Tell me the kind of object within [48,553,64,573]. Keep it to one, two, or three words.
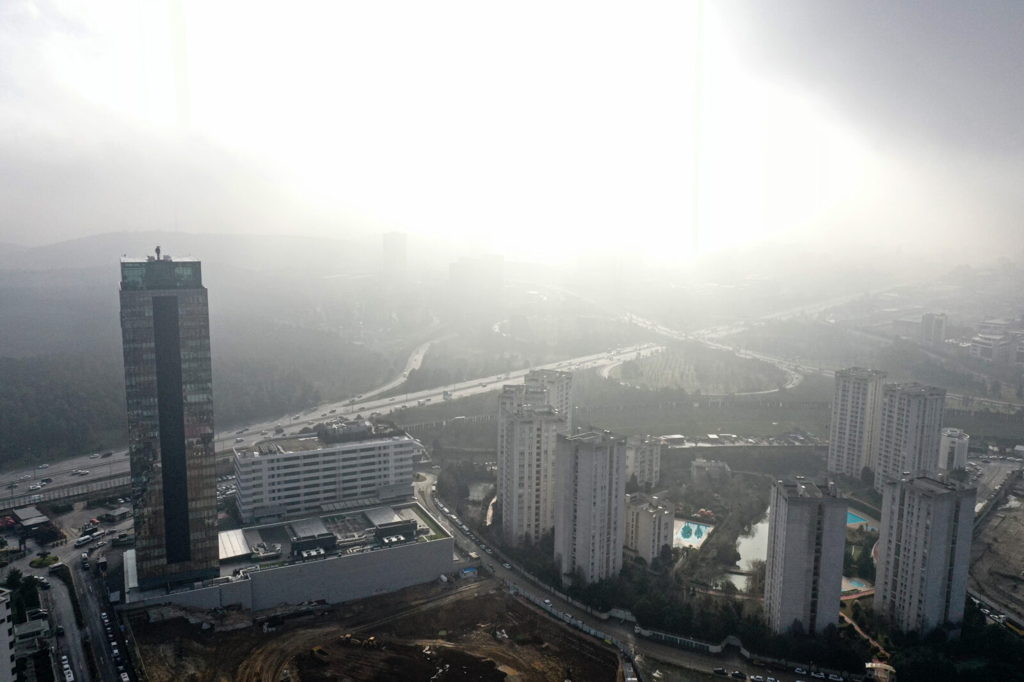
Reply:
vehicle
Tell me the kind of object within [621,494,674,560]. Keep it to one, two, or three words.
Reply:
building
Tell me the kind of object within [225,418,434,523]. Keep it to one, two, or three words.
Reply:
building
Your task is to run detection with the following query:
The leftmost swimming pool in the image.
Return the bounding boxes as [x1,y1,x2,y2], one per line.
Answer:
[675,521,711,544]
